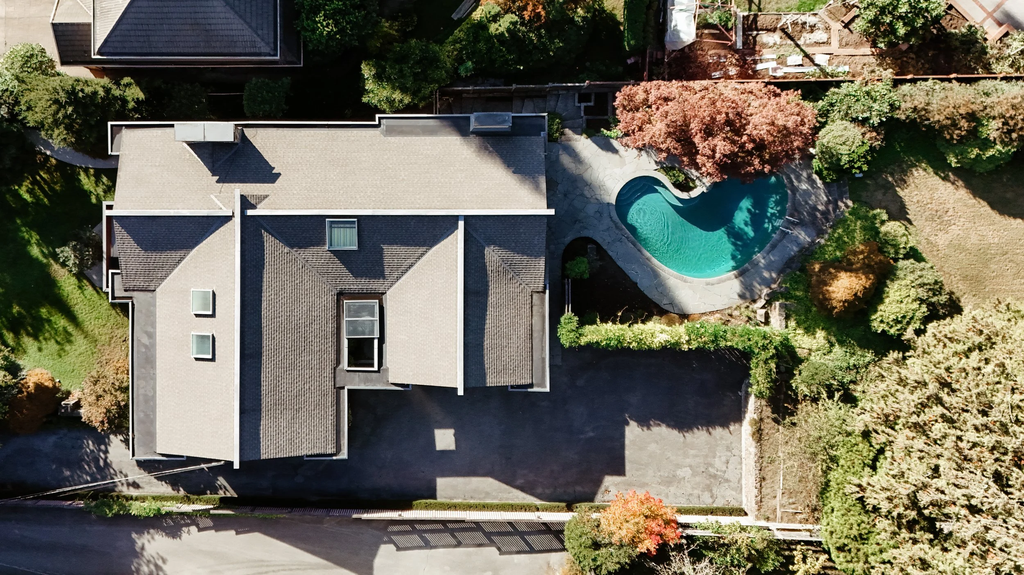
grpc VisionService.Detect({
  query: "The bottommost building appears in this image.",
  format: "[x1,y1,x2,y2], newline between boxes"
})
[103,113,554,469]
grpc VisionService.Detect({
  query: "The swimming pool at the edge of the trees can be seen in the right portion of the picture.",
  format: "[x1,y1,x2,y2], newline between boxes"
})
[616,171,789,278]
